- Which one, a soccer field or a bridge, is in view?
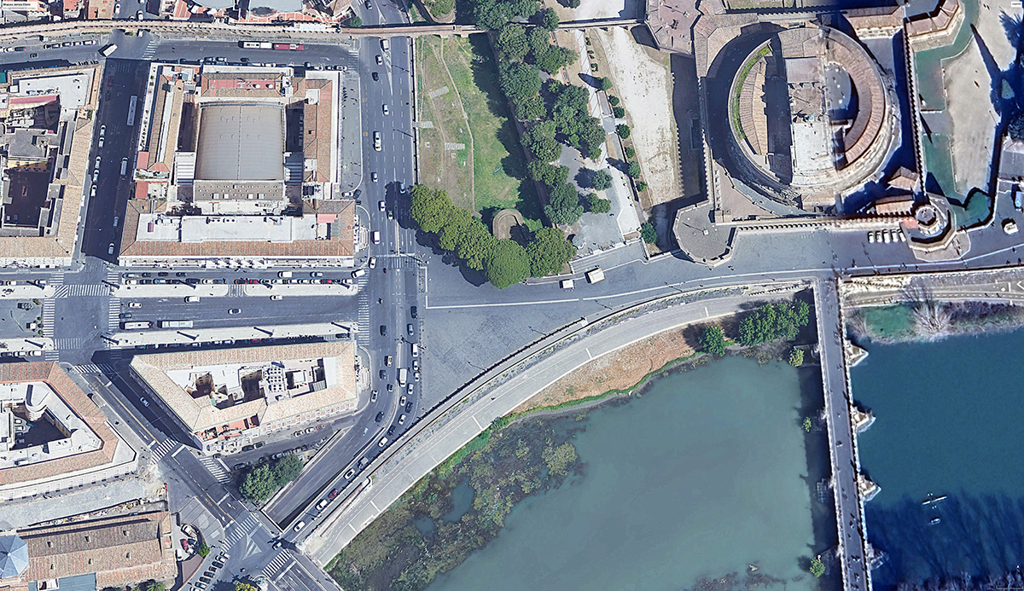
bridge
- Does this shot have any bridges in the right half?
Yes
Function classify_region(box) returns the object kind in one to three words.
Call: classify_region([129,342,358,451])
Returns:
building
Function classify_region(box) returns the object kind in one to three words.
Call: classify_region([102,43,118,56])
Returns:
vehicle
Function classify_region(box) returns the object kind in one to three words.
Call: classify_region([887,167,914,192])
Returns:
building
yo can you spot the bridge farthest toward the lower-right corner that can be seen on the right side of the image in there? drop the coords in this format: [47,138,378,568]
[811,271,883,591]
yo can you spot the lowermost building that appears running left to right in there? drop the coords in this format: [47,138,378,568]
[0,512,176,591]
